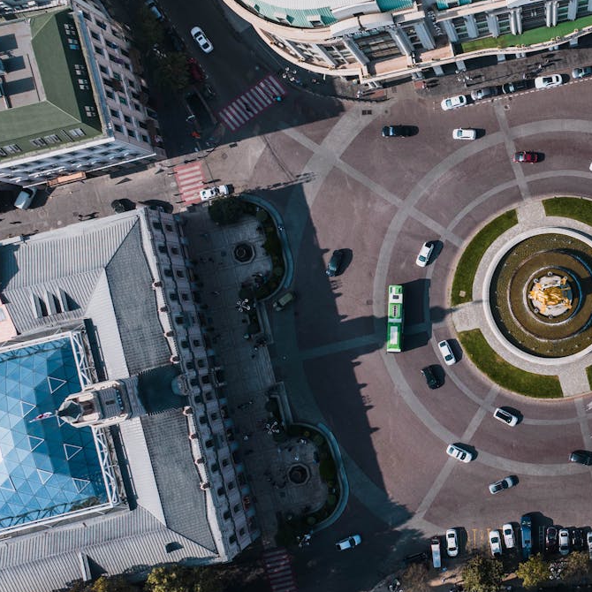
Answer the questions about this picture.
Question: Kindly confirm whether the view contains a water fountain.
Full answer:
Yes, I can see a water fountain in this picture.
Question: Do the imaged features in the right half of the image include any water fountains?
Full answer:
Yes, looking in the right half of the image, one can make out a water fountain.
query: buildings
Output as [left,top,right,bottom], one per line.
[215,0,592,86]
[0,207,258,592]
[0,6,159,195]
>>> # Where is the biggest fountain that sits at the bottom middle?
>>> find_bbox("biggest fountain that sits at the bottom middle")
[287,464,309,486]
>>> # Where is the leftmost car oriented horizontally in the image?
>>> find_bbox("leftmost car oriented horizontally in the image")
[112,200,136,212]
